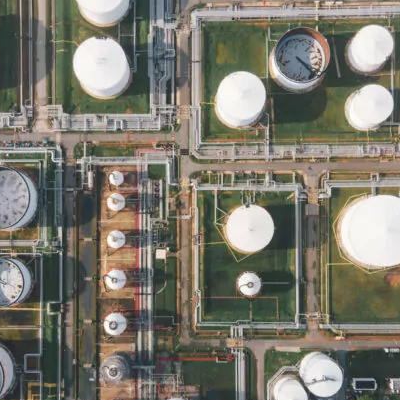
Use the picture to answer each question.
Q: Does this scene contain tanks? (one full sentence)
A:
Yes, the frame does contain a tank.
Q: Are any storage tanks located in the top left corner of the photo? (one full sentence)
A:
Yes, I can see a storage tank in the top left corner of the photo.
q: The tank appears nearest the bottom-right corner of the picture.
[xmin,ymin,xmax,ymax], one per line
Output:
[297,351,346,398]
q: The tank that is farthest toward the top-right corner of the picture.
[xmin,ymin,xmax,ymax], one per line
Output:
[341,23,394,79]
